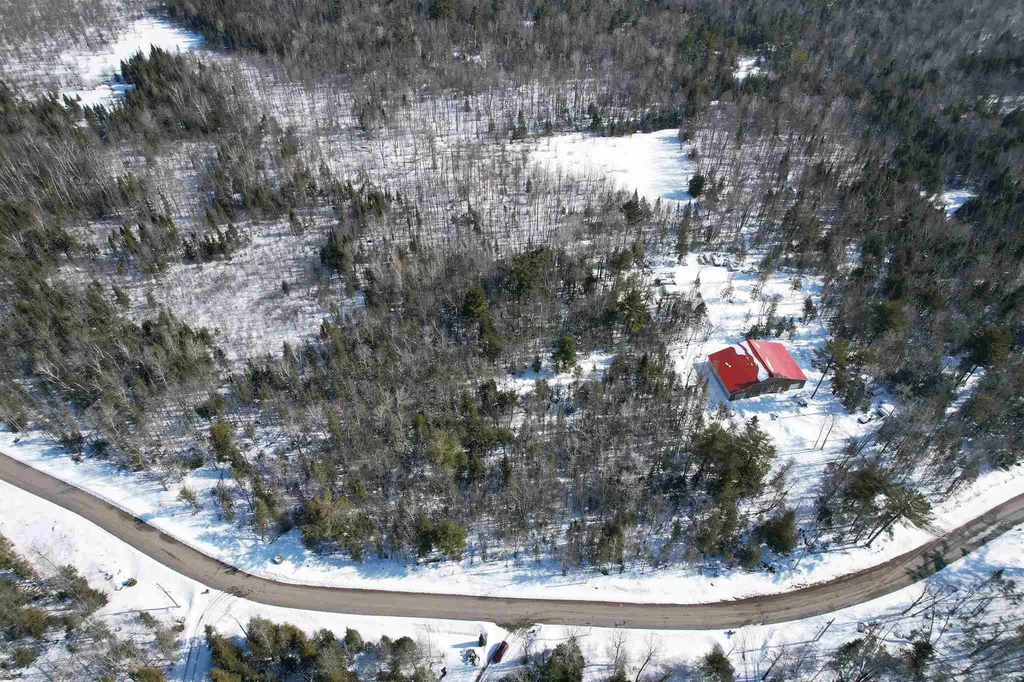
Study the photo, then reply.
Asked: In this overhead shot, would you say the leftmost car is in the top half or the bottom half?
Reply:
bottom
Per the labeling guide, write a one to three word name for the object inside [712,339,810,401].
barn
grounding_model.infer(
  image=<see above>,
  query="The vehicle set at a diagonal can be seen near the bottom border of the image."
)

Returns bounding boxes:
[488,637,510,666]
